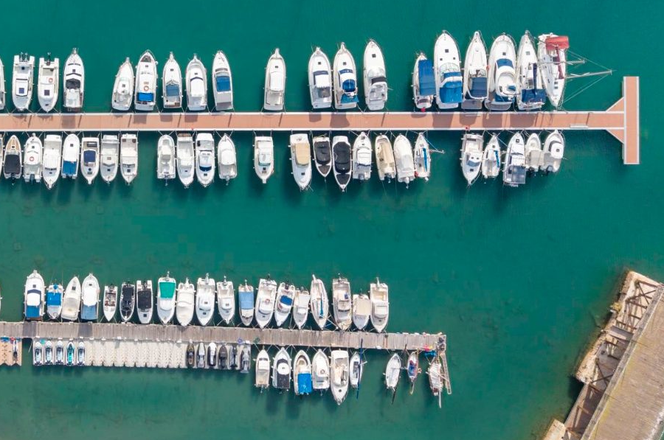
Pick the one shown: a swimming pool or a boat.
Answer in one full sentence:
There is a boat in the scene.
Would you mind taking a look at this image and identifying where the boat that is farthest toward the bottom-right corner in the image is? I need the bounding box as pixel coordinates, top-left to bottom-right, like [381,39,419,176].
[427,350,442,394]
